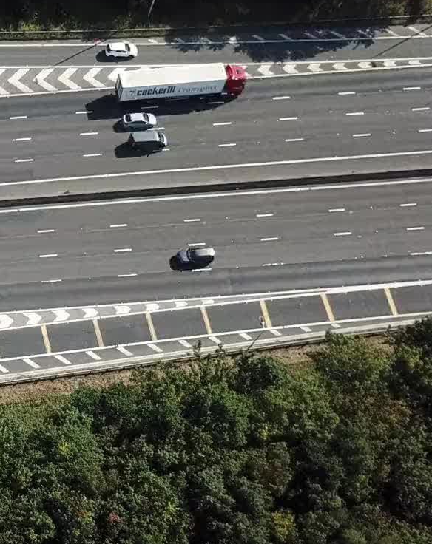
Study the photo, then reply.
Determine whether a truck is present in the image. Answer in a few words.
Yes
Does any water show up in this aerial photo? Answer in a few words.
No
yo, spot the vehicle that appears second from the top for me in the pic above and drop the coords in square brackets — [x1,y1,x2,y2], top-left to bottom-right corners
[113,66,244,107]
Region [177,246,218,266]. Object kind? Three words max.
car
